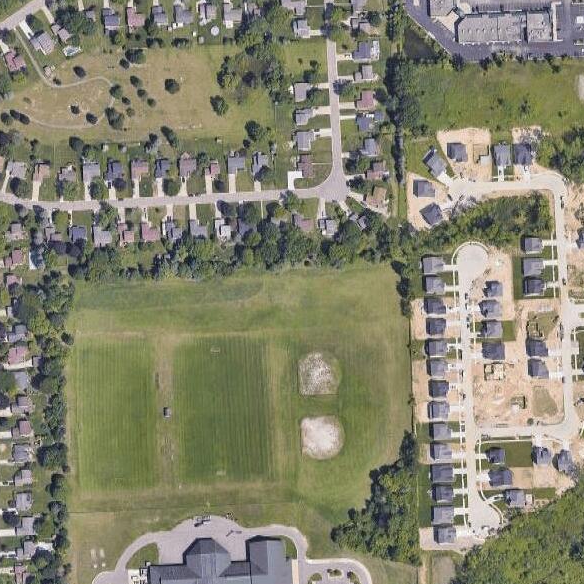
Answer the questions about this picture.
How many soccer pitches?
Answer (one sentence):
Altogether the scene contains 2 soccer pitches.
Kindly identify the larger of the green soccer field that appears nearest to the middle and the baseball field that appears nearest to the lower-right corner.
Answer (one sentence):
It is the soccer field that is larger, not the baseball field.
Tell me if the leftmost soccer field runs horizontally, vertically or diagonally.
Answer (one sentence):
The leftmost soccer field is oriented vertically.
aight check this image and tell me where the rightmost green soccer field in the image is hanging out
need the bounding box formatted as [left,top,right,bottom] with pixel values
[173,329,277,486]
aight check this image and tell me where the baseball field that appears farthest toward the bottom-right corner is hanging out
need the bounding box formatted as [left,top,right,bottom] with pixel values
[296,411,350,465]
